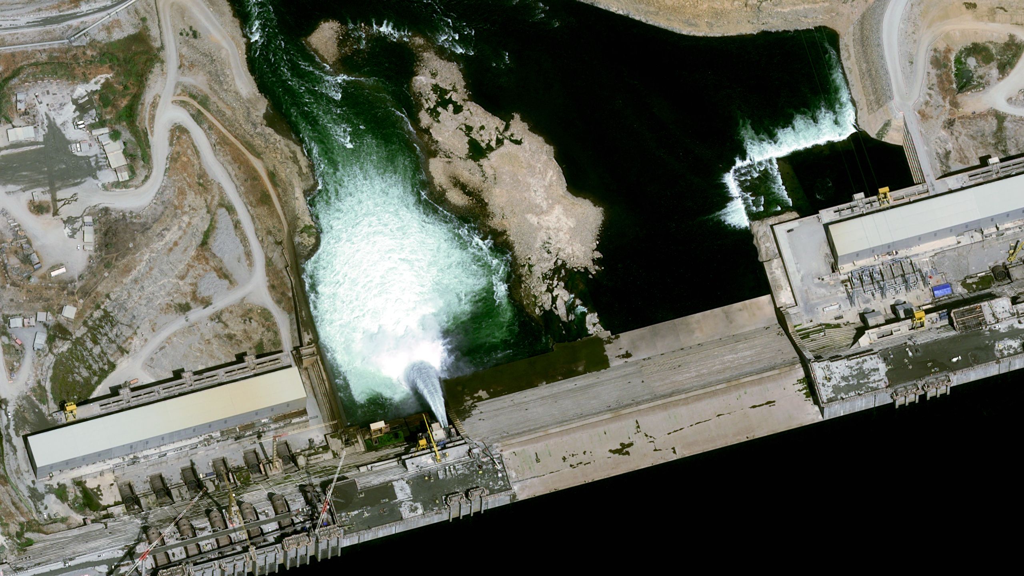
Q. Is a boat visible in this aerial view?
No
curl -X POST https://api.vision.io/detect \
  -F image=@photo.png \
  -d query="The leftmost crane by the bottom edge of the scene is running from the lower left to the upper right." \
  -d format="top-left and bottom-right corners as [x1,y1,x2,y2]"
[122,488,205,576]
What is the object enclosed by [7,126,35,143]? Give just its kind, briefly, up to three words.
shed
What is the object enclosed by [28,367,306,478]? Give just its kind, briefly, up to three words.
building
